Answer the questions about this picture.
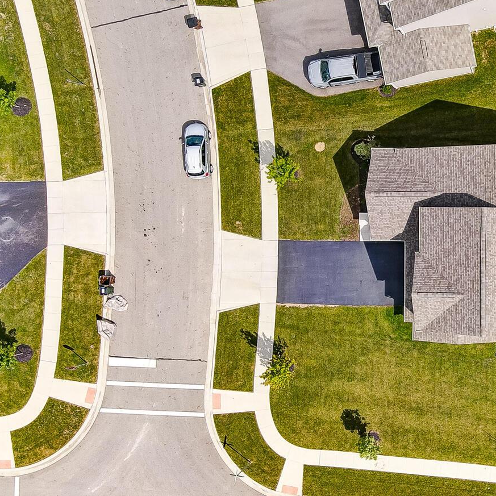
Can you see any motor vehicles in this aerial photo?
Yes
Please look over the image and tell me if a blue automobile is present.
No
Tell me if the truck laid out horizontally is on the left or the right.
right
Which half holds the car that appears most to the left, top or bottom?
top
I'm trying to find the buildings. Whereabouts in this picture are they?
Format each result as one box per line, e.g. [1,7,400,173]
[365,144,496,344]
[358,0,496,89]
